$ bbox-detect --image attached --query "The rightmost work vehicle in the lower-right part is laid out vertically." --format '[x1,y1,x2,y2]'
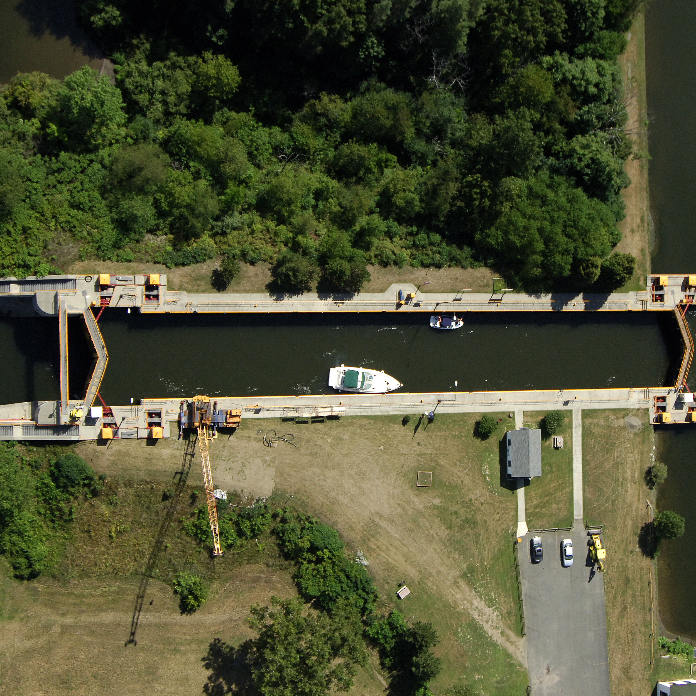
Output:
[586,529,605,572]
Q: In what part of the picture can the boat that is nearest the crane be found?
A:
center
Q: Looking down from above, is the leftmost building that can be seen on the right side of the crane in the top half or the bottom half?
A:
bottom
